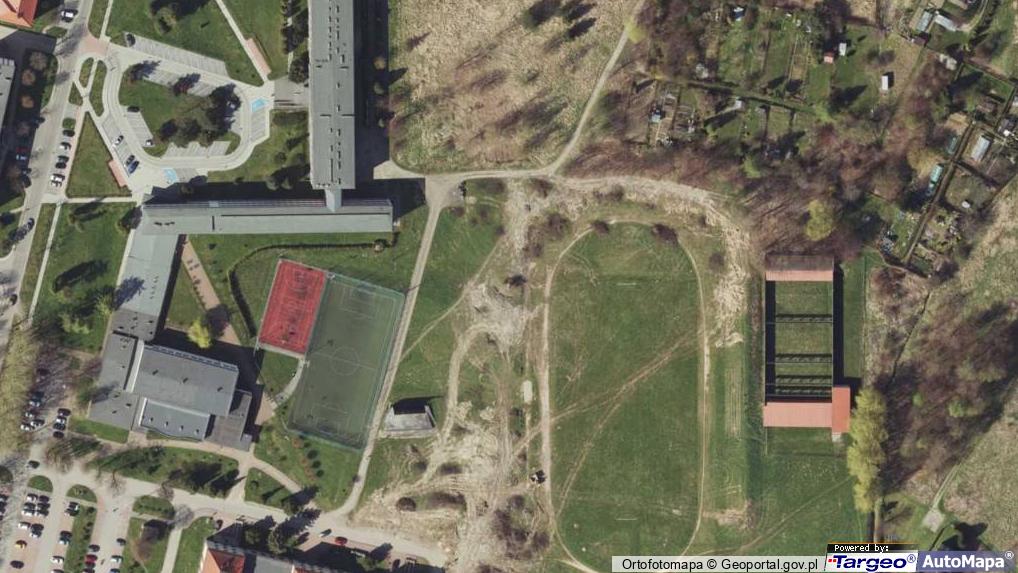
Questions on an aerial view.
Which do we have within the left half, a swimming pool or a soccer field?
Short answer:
soccer field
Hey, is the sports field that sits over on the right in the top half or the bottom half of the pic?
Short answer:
bottom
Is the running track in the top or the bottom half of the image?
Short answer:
bottom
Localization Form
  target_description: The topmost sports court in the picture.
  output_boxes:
[256,259,328,360]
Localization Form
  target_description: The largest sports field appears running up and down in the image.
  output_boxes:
[551,227,702,570]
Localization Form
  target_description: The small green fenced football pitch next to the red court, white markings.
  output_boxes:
[285,274,405,450]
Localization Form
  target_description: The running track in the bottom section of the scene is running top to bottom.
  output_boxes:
[541,217,712,573]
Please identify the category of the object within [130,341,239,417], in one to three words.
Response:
building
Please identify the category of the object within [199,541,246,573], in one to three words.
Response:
house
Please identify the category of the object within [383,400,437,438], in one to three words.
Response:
building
